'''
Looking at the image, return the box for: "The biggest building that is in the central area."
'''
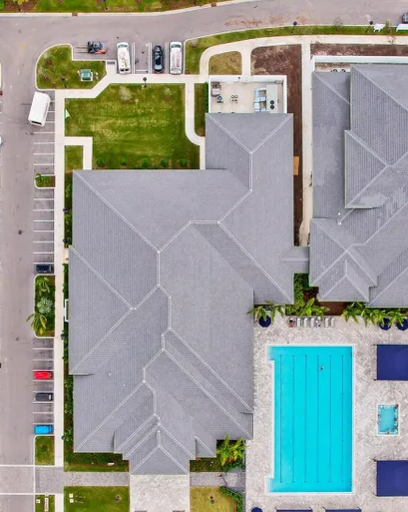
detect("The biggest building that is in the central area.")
[68,112,295,475]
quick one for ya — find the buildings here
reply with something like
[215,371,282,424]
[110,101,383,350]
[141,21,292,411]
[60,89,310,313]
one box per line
[309,64,408,308]
[68,112,295,475]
